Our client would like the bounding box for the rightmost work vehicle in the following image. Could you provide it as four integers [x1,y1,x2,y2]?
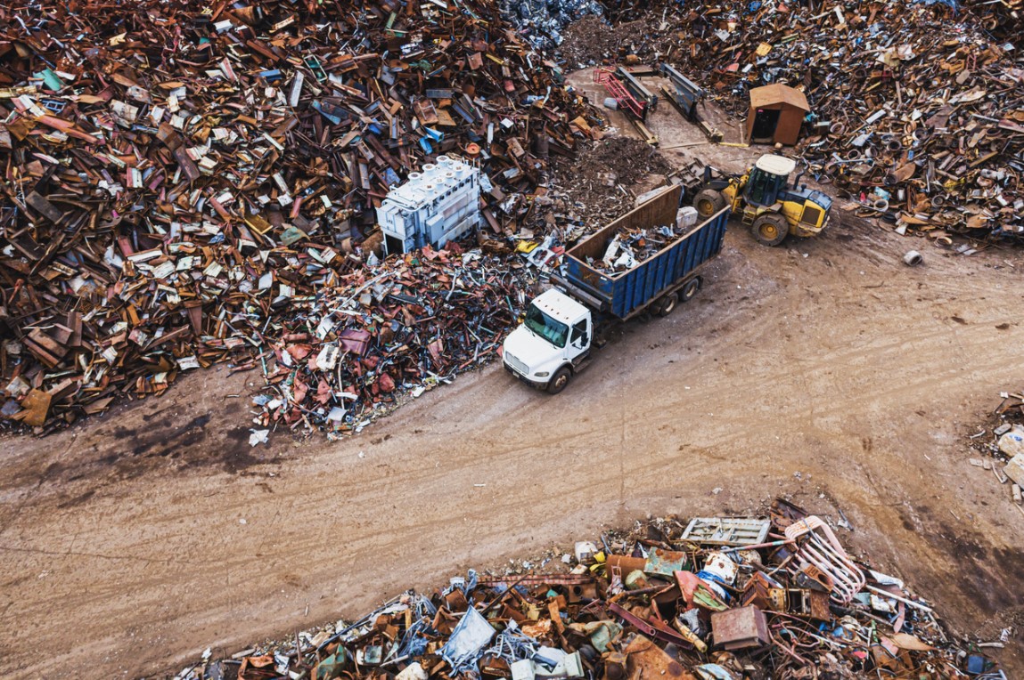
[649,156,829,251]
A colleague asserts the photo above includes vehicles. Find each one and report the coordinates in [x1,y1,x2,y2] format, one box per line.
[649,156,829,251]
[501,273,620,395]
